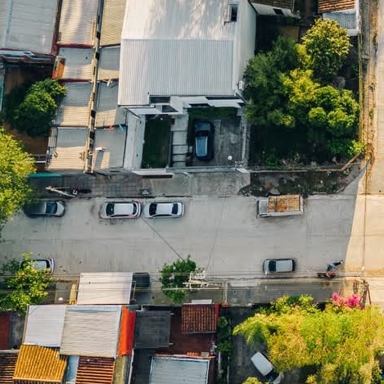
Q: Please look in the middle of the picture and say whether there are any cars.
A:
Yes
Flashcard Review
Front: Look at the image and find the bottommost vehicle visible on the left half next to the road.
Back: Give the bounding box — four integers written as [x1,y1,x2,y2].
[132,272,155,290]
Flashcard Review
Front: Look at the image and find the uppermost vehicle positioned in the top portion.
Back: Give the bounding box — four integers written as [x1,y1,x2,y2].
[190,121,215,162]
